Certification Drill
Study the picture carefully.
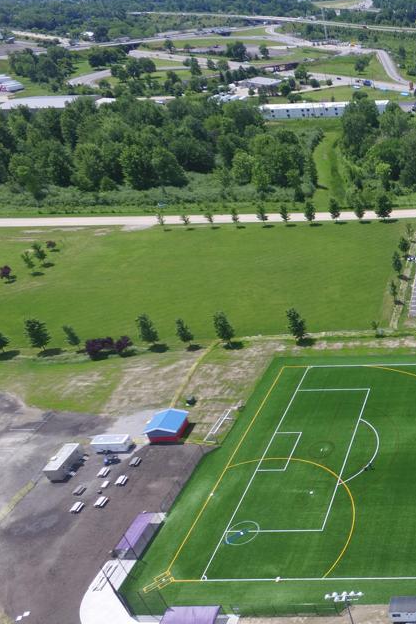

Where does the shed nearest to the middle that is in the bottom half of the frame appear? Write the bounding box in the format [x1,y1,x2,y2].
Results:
[140,405,190,443]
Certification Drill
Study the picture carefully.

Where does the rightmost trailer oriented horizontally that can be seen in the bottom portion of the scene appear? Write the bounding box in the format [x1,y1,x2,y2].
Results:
[90,434,134,454]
